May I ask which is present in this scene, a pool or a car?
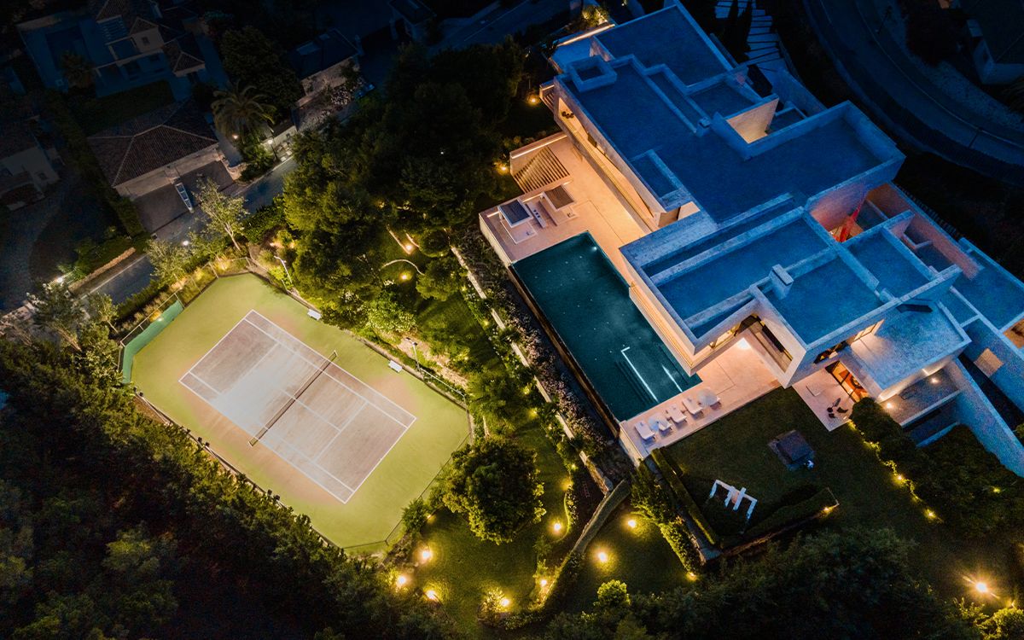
pool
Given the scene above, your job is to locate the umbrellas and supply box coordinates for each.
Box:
[645,406,666,430]
[693,380,714,404]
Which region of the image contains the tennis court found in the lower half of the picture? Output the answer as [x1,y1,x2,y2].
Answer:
[130,273,472,550]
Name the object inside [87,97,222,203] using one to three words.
building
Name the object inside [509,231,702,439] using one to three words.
swimming pool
